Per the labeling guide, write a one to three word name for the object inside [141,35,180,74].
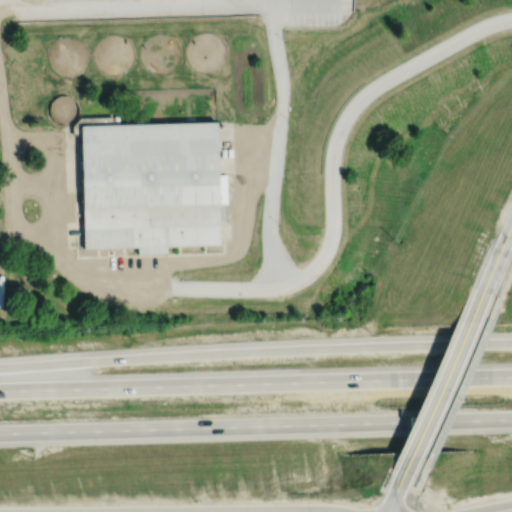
storage tank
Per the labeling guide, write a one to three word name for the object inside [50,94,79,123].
storage tank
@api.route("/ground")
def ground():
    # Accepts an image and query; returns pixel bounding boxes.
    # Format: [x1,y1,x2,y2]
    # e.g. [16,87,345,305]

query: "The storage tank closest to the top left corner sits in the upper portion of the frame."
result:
[48,37,90,78]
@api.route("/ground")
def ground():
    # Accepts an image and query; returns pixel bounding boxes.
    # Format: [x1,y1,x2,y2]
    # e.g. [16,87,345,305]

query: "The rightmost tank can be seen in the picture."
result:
[187,34,226,73]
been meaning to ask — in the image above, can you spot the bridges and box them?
[383,201,512,490]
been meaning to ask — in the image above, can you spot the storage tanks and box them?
[94,36,135,76]
[141,35,180,74]
[48,37,90,78]
[187,34,226,73]
[50,94,79,123]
